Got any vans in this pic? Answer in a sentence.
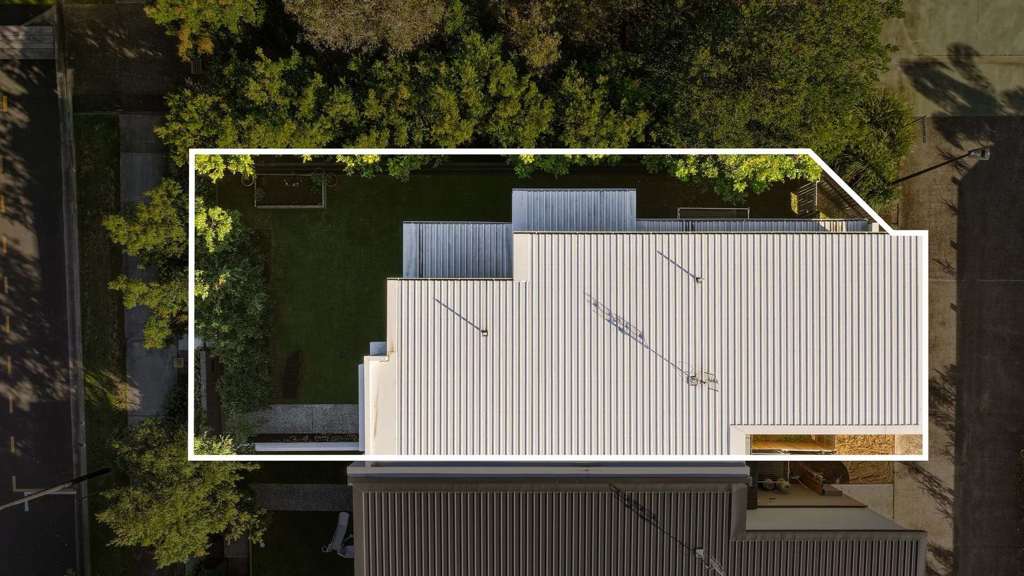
No, there is no van in the image.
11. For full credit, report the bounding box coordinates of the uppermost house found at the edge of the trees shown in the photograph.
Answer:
[348,189,922,474]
